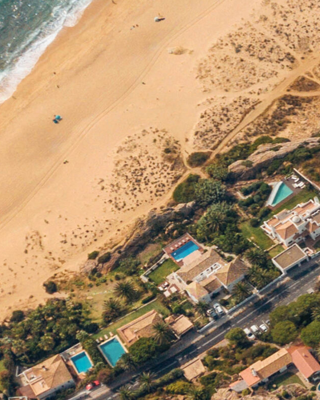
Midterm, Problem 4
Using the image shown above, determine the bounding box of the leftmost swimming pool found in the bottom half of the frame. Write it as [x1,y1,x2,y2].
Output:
[69,351,96,376]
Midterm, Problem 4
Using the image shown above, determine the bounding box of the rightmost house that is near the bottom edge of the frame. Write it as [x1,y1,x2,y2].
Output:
[230,339,320,394]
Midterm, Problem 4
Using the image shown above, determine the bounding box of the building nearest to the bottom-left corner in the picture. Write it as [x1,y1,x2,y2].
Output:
[16,355,74,400]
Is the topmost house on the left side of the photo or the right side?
right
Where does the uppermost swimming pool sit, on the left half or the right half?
right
